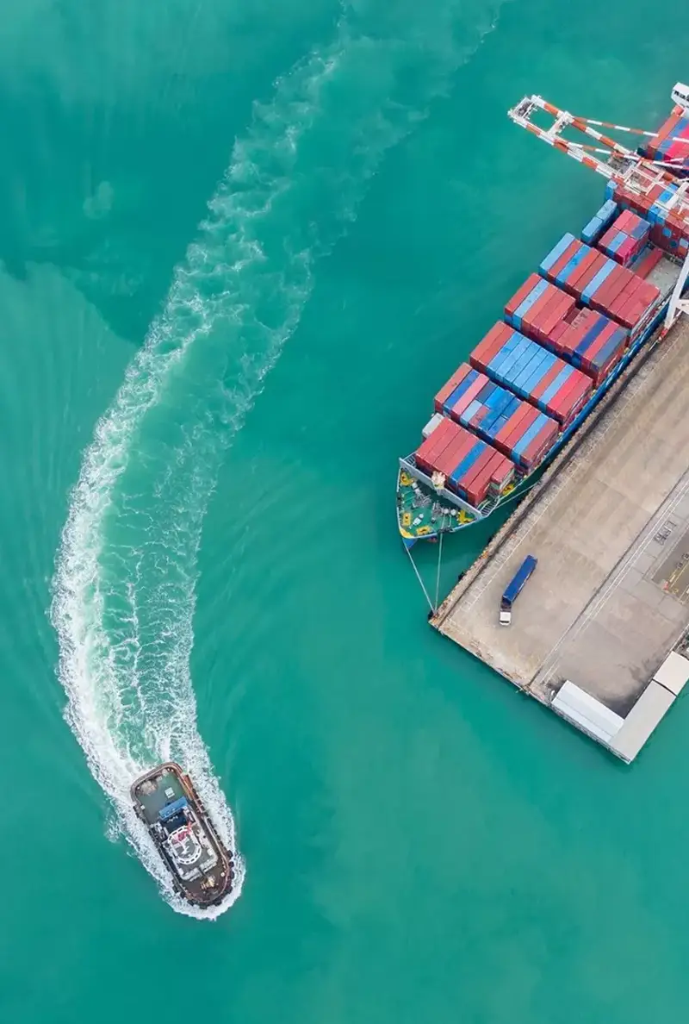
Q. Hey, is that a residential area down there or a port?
port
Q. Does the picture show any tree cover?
No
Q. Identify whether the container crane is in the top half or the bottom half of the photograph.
top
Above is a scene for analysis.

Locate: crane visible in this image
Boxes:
[508,87,689,344]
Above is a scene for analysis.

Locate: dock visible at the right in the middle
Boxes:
[427,292,689,770]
